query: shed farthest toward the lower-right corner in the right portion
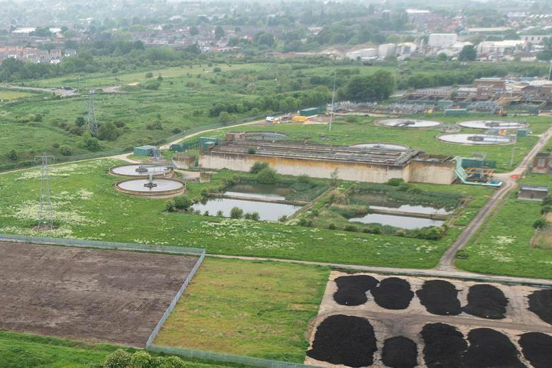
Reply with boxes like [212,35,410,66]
[518,185,549,203]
